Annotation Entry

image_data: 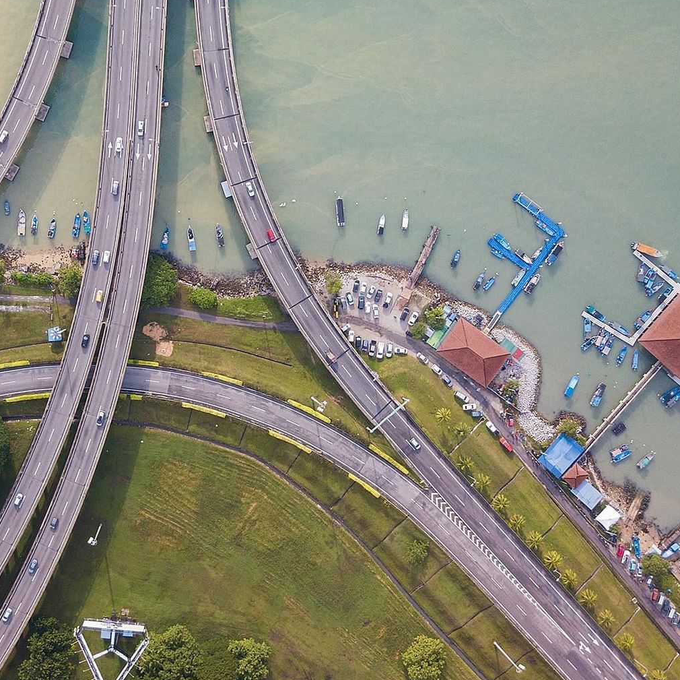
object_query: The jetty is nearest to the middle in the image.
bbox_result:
[408,226,439,286]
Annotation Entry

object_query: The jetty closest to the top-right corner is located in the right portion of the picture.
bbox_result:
[489,194,567,314]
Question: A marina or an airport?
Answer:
marina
